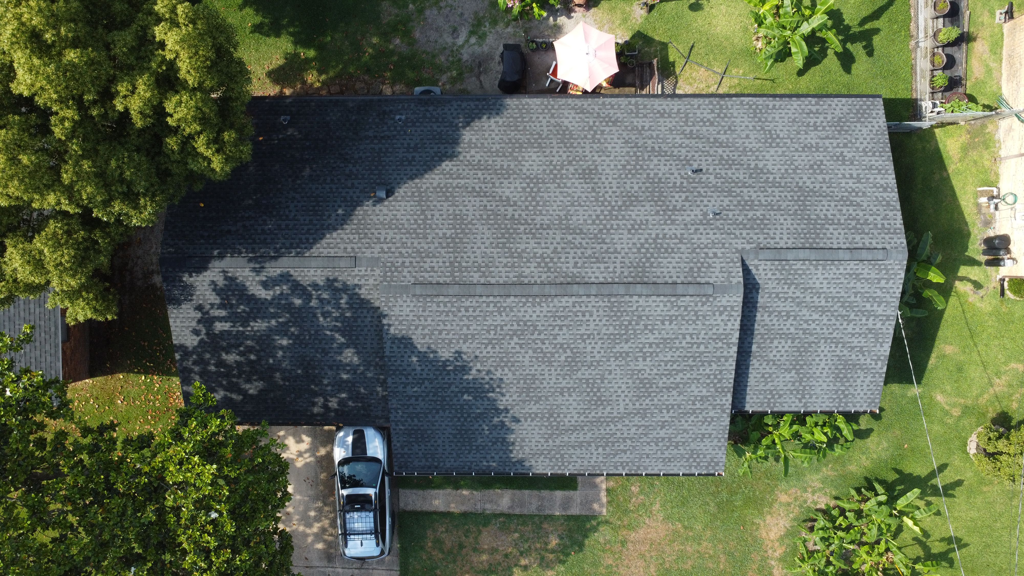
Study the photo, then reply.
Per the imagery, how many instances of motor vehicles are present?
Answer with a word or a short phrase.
1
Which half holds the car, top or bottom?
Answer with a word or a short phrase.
bottom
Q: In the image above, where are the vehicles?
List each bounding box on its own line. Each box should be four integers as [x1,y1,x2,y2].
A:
[328,429,398,565]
